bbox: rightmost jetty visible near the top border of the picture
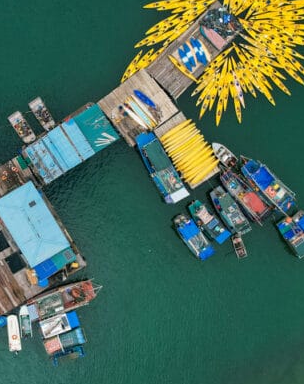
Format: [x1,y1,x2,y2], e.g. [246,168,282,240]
[145,0,246,98]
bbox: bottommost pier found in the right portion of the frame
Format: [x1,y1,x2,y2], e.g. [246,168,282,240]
[153,113,220,189]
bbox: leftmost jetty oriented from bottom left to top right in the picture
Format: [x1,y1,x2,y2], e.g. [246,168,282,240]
[22,104,122,189]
